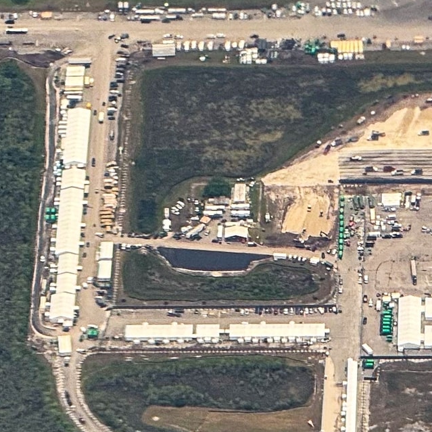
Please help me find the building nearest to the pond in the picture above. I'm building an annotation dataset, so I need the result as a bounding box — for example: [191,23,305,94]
[225,225,248,241]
